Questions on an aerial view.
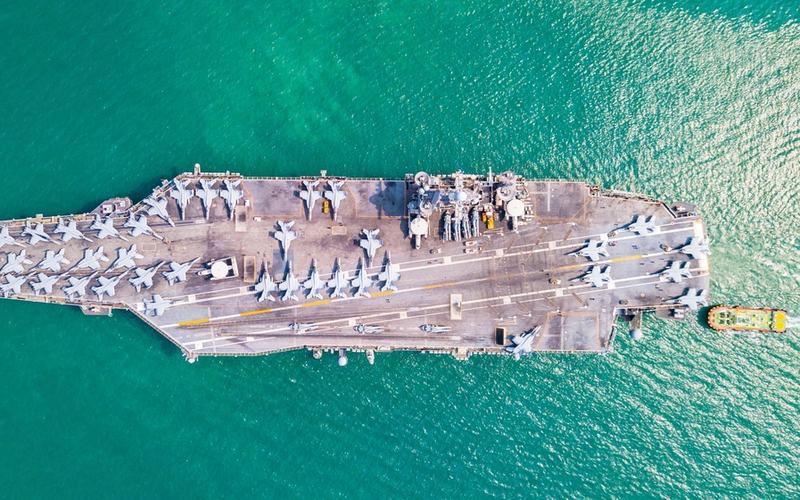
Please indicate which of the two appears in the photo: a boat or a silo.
boat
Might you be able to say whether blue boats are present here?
No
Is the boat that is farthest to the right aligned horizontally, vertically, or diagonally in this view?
horizontally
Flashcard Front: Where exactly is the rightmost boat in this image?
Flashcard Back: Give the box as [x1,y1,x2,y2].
[706,305,788,333]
